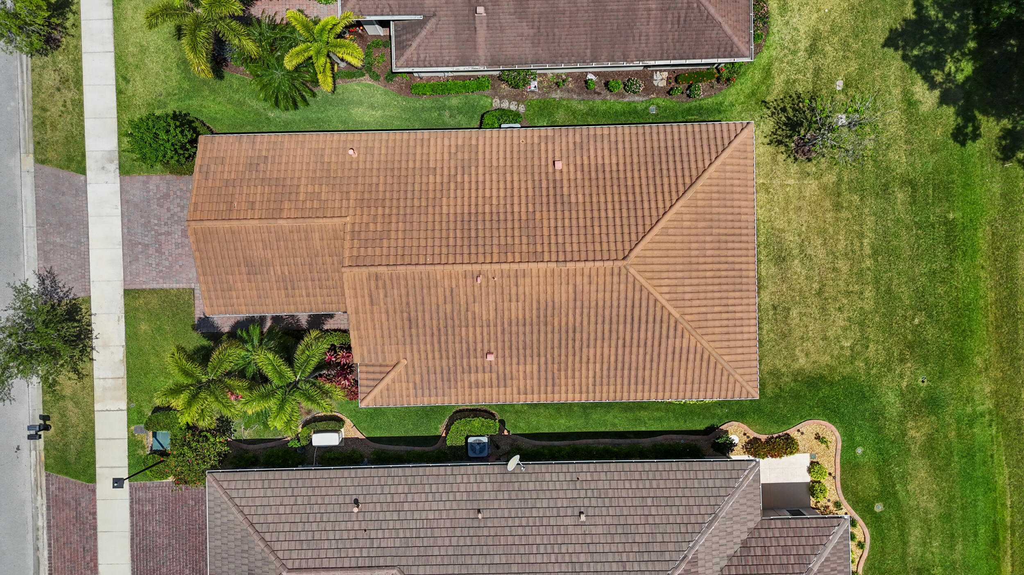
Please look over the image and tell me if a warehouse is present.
No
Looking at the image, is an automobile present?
No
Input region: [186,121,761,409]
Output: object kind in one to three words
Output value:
house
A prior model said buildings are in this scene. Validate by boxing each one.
[186,121,761,409]
[338,0,753,80]
[206,461,851,575]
